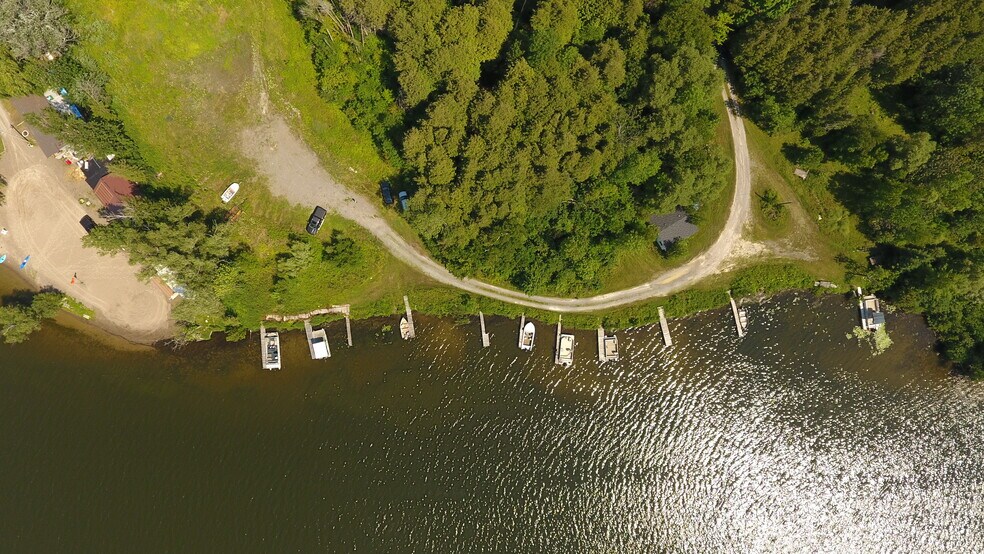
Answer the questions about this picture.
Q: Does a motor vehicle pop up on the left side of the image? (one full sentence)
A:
Yes, a motor vehicle is visible on the left side of the image.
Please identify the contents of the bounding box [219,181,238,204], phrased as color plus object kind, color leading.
white boat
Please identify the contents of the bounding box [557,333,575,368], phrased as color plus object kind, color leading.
white boat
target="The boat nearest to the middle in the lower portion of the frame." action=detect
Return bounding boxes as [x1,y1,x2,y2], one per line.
[522,322,534,353]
